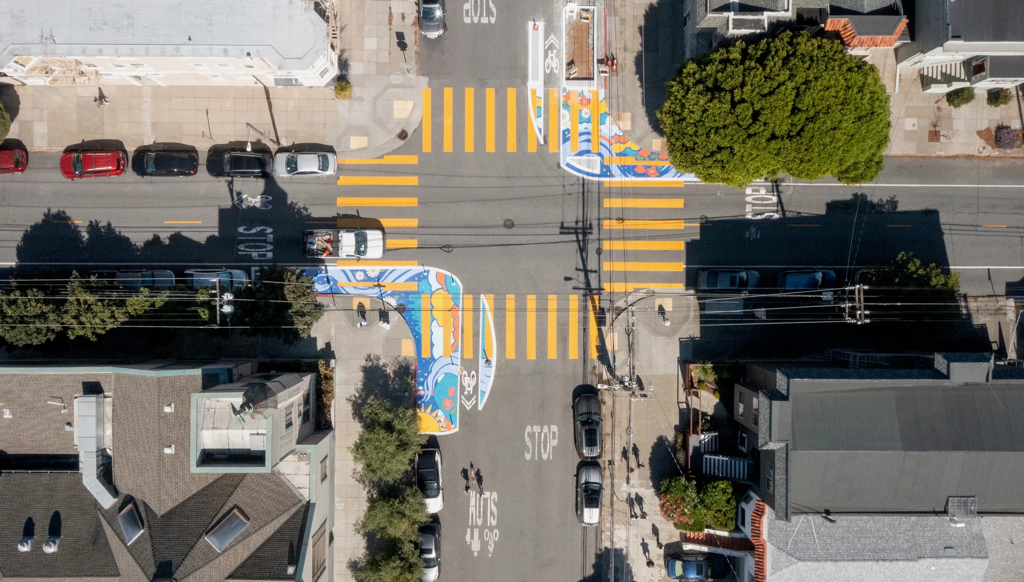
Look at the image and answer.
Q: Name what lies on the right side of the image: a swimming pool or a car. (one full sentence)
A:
Looking on the right side of the image, you will find a car.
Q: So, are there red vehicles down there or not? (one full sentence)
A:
Yes, the photo shows a red vehicle.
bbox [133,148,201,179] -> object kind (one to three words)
car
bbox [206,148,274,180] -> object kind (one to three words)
car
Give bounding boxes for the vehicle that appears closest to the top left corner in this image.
[0,148,32,175]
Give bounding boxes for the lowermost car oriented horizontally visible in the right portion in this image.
[664,550,731,582]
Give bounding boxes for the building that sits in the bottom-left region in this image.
[0,355,336,582]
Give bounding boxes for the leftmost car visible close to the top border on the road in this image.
[416,0,447,43]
